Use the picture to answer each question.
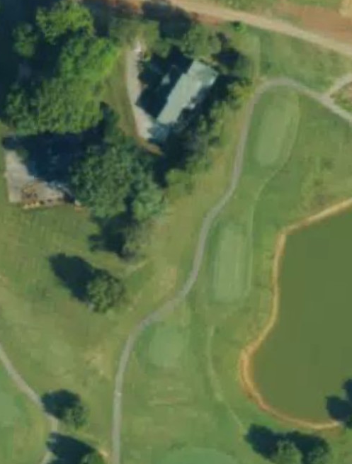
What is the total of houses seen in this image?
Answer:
2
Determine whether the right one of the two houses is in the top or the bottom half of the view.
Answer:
top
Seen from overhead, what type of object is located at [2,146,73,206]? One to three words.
house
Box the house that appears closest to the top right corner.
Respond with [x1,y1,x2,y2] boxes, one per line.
[149,56,224,137]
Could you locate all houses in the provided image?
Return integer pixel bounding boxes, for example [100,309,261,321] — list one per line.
[149,56,224,137]
[2,146,73,206]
